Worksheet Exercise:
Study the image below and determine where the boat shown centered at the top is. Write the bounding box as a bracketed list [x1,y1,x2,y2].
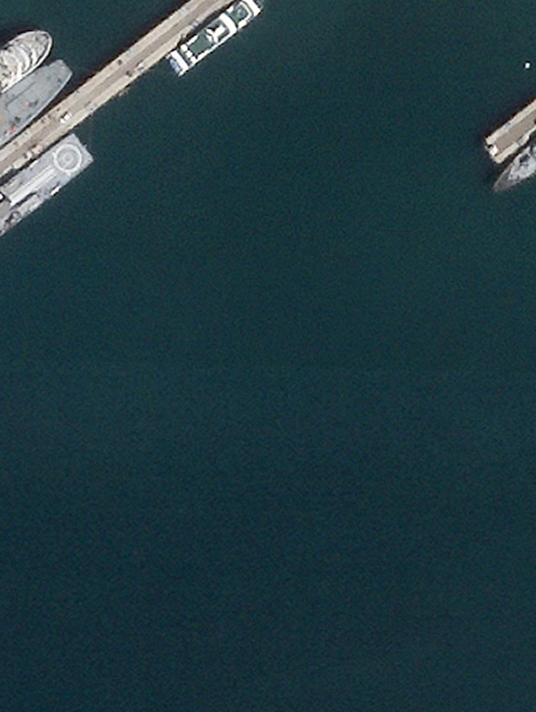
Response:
[156,0,266,76]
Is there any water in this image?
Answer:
Yes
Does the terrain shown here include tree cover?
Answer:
No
